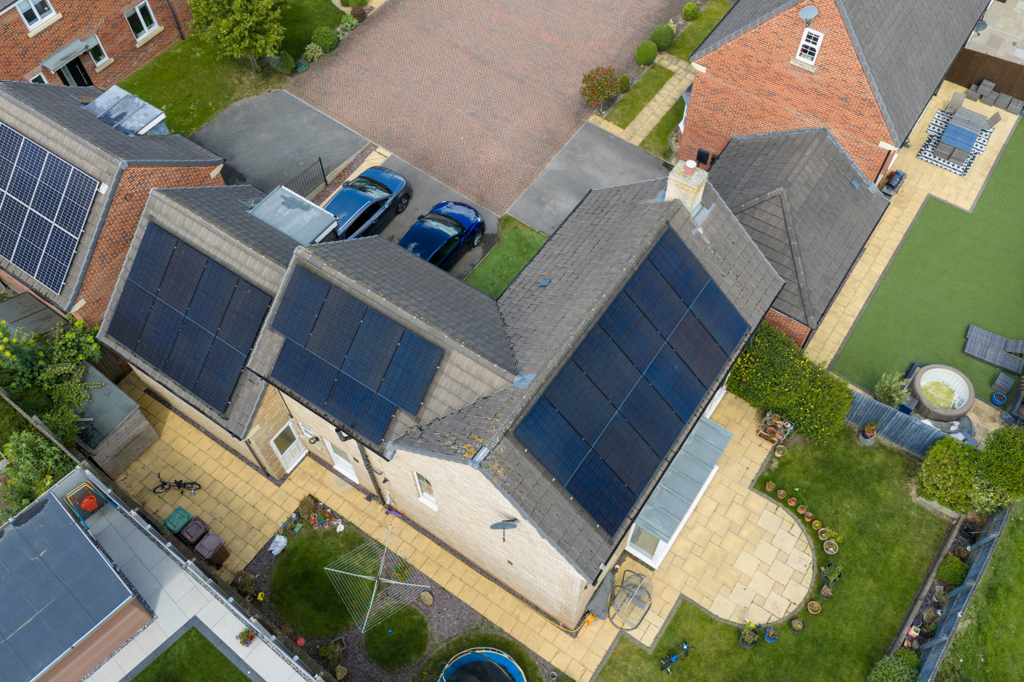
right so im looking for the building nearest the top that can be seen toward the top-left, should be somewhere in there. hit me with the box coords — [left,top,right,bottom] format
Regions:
[0,0,193,88]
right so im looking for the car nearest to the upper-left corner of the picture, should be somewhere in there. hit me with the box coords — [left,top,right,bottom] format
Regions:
[317,164,412,234]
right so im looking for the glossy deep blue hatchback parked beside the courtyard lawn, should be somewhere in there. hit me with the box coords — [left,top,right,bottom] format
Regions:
[400,200,487,268]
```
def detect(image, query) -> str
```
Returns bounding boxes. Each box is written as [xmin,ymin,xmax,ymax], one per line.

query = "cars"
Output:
[317,164,412,234]
[400,200,487,268]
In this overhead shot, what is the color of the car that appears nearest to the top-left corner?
blue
